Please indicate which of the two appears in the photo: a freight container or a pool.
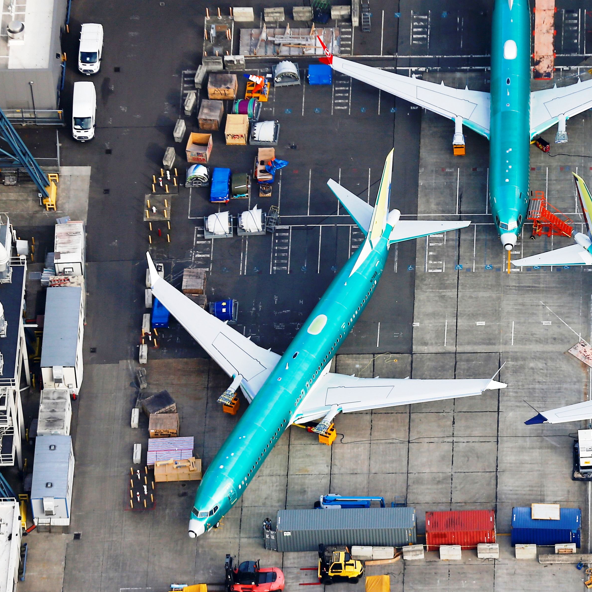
freight container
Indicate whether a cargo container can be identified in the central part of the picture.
No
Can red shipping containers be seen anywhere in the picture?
Yes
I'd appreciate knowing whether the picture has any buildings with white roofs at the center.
No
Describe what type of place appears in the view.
airport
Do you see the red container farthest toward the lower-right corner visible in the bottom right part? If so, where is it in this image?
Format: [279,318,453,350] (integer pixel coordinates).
[427,512,497,551]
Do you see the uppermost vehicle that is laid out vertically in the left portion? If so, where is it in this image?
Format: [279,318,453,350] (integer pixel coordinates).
[75,18,104,80]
